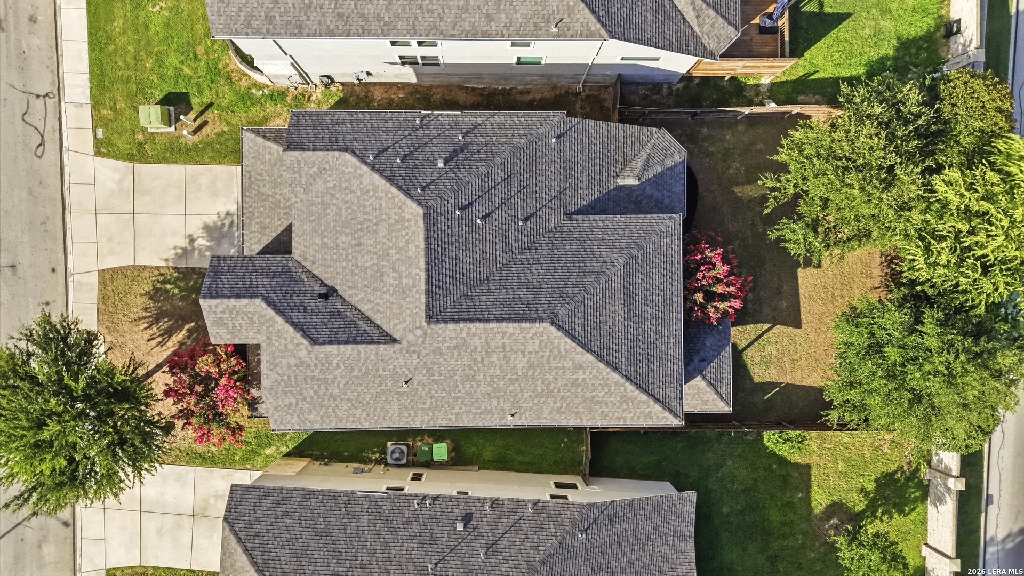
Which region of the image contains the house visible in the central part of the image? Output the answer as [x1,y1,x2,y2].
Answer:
[198,108,734,432]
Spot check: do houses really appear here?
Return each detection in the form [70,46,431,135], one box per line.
[202,0,741,91]
[219,458,695,576]
[198,108,734,432]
